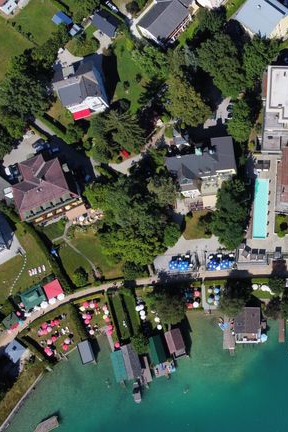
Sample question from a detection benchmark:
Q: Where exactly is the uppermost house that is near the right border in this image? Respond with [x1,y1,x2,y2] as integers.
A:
[236,0,288,40]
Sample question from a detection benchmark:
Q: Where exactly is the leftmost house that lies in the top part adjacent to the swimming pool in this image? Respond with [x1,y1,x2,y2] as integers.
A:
[165,136,238,208]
